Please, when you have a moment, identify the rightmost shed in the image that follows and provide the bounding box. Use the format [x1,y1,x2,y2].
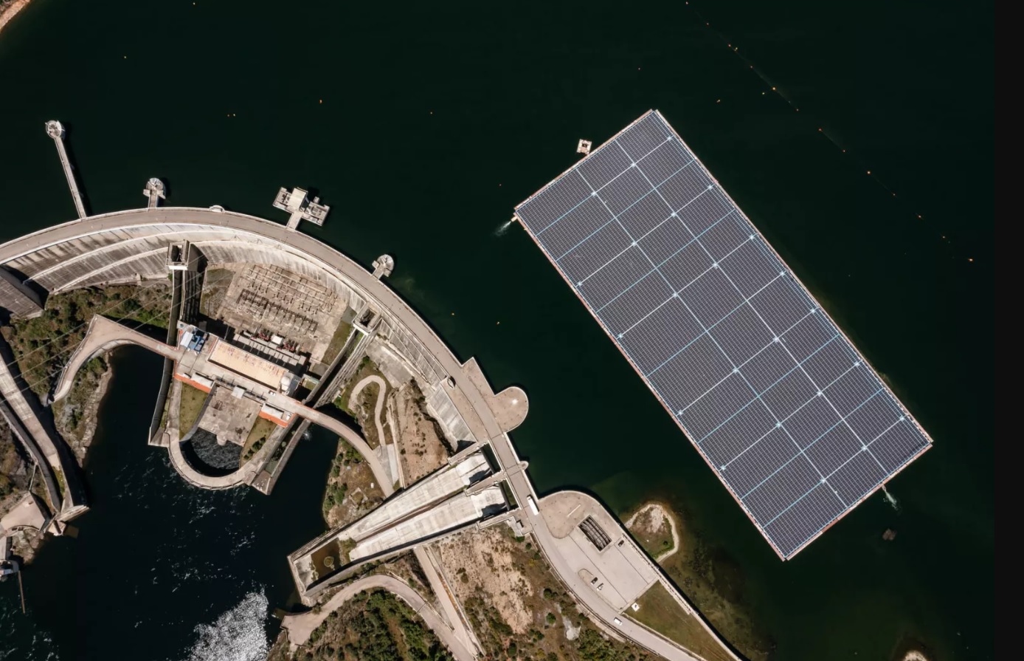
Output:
[478,509,531,536]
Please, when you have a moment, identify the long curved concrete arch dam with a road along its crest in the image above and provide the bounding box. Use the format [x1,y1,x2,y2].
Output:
[0,202,462,389]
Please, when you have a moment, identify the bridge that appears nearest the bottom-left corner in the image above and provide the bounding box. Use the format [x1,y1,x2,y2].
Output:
[52,314,178,402]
